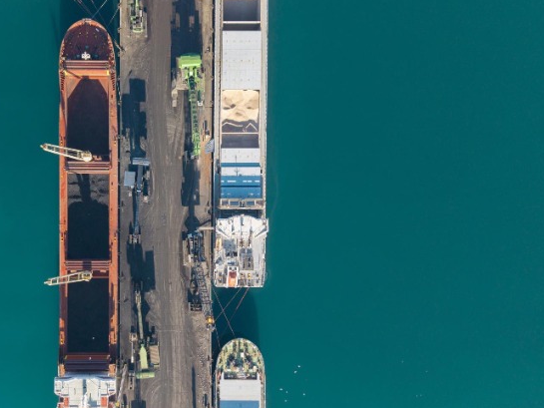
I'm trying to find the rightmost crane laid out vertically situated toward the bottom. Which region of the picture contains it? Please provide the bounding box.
[182,228,208,316]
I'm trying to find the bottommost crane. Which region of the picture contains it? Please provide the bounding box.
[130,290,153,373]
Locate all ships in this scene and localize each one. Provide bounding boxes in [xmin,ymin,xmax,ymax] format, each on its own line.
[213,338,266,408]
[212,0,270,288]
[41,16,118,408]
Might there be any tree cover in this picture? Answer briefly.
No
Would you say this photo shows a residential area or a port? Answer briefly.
port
